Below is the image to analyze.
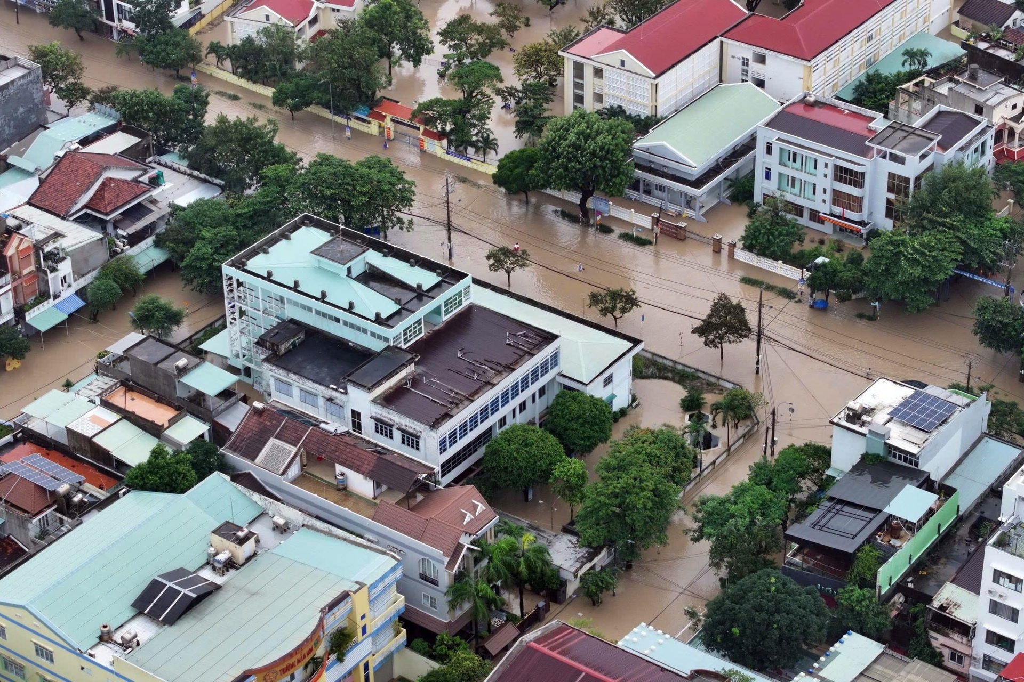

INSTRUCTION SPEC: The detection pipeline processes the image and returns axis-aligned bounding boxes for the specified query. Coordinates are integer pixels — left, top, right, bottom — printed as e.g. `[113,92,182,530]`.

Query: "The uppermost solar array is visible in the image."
[888,390,958,433]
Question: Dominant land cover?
buildings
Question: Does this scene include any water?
Yes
